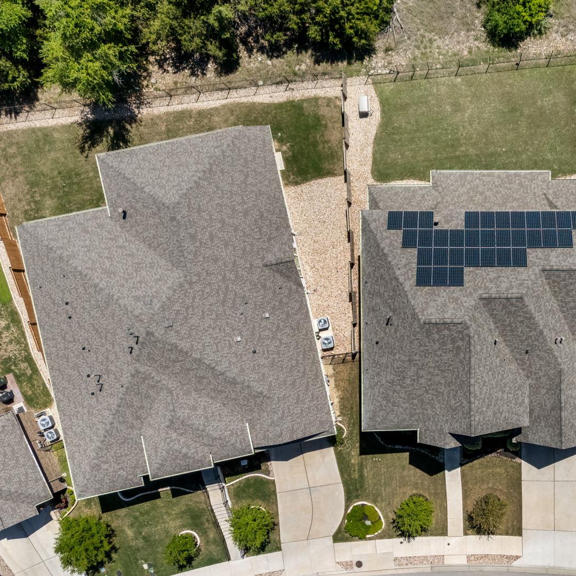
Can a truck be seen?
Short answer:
No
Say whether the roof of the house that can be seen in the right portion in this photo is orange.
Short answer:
No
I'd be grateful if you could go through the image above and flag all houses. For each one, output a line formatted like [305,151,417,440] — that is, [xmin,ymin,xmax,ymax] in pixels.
[0,391,70,529]
[14,123,339,501]
[359,169,576,448]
